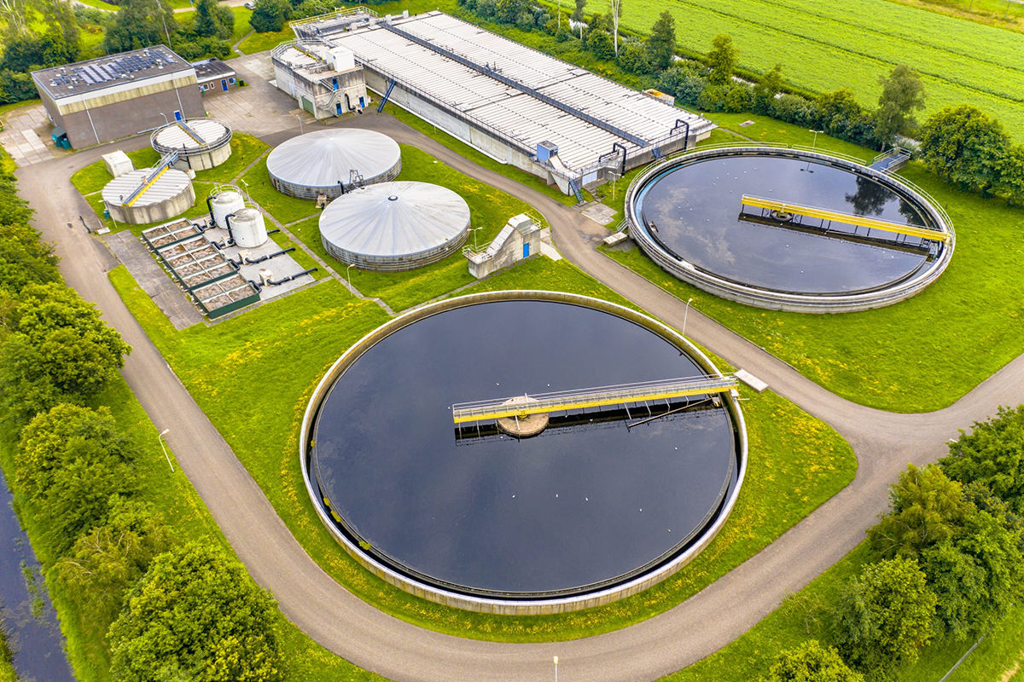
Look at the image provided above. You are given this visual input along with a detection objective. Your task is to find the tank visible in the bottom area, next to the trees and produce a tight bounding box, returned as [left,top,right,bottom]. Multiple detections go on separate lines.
[297,291,748,617]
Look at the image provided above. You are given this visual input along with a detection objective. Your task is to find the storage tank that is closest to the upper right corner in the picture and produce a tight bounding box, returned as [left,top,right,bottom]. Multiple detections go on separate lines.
[618,140,959,318]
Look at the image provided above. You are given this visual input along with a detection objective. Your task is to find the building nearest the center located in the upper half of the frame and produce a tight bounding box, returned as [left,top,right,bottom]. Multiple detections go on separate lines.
[465,212,541,278]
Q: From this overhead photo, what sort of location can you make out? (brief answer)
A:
industrial area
